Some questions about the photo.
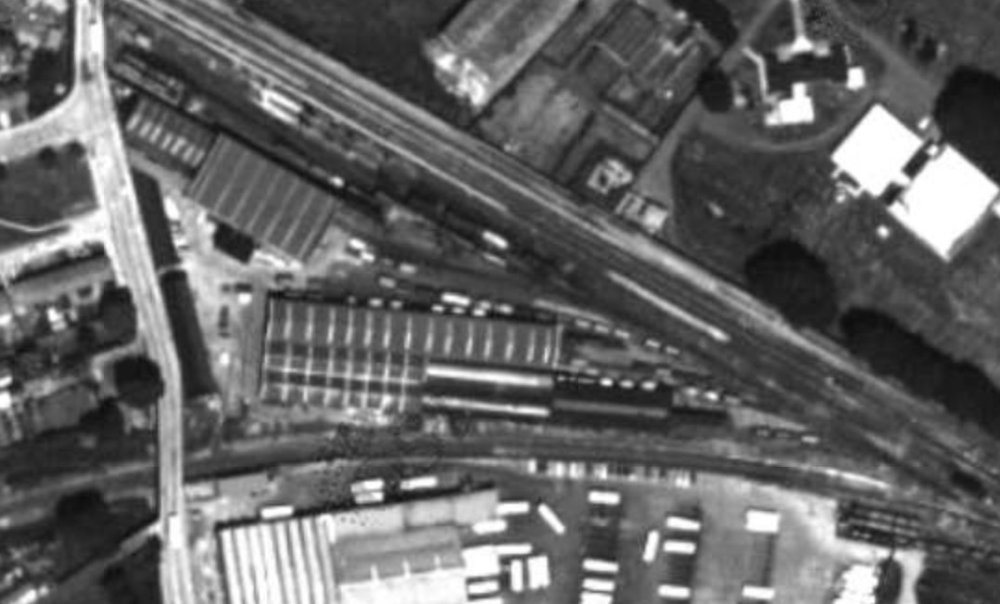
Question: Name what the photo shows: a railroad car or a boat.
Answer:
railroad car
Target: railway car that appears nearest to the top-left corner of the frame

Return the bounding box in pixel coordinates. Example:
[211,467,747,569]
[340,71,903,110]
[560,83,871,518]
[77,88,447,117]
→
[254,75,270,88]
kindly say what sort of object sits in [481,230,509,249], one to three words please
rail car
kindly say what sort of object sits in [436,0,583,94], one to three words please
building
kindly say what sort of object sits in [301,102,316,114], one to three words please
rail car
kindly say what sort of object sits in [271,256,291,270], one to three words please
vehicle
